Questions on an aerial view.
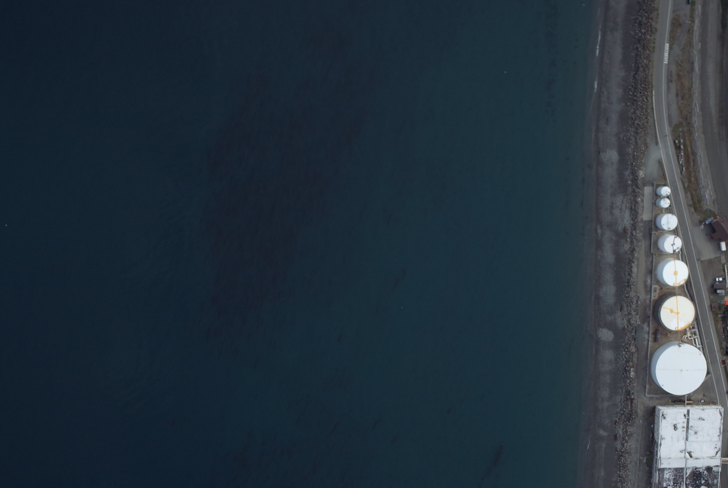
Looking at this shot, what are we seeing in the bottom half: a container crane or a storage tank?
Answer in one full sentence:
Looking in the bottom half, you will find a storage tank.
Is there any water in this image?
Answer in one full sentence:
Yes, there's water in this view.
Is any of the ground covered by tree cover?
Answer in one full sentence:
No, tree cover can't be seen anywhere here.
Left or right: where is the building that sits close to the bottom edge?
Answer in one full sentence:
You can find the building that sits close to the bottom edge on the right side of the picture.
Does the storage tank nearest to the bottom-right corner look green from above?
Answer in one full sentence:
No, from above the storage tank nearest to the bottom-right corner looks white.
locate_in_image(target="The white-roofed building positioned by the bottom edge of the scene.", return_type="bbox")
[653,395,724,488]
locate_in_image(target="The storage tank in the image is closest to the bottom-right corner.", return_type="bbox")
[650,341,707,395]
